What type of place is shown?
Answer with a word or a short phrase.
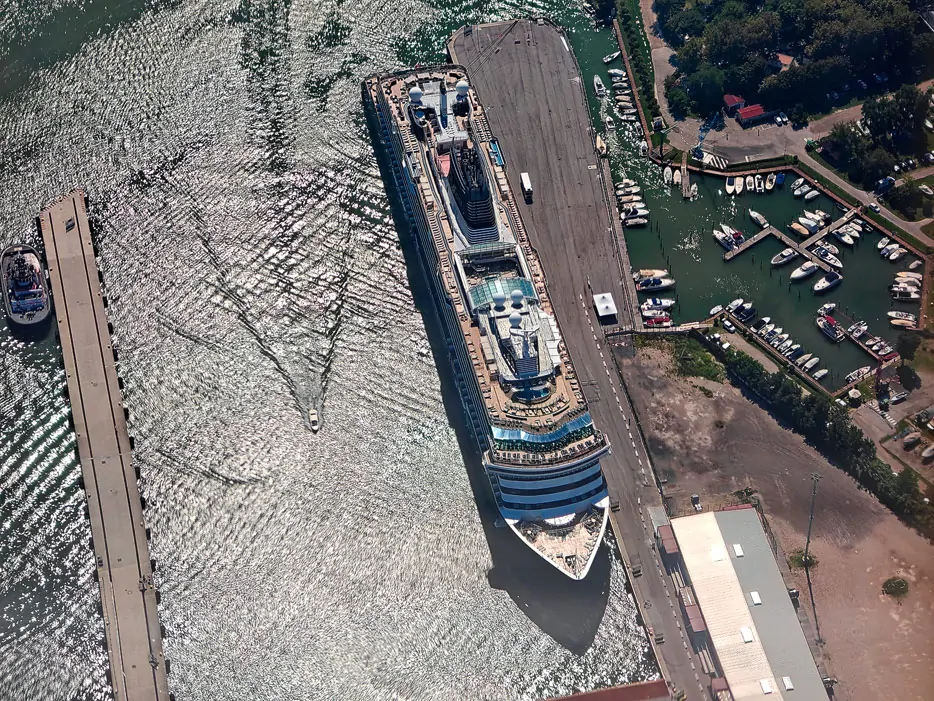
port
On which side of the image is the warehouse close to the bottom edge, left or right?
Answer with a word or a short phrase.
right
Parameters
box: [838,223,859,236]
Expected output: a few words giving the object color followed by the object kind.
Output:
white boat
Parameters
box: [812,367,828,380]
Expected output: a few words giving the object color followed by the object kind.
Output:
white boat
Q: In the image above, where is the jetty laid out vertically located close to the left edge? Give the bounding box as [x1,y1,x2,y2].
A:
[38,190,173,701]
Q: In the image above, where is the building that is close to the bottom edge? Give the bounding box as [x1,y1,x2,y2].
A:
[671,504,830,701]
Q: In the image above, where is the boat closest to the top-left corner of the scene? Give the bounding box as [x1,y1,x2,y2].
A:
[0,243,51,325]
